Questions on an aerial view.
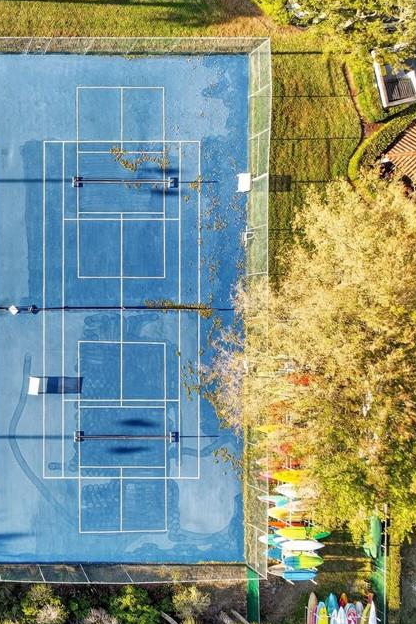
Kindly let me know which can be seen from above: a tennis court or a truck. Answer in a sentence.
It is a tennis court that can be seen here.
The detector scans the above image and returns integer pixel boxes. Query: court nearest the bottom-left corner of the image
[79,341,167,532]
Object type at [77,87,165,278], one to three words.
sports court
